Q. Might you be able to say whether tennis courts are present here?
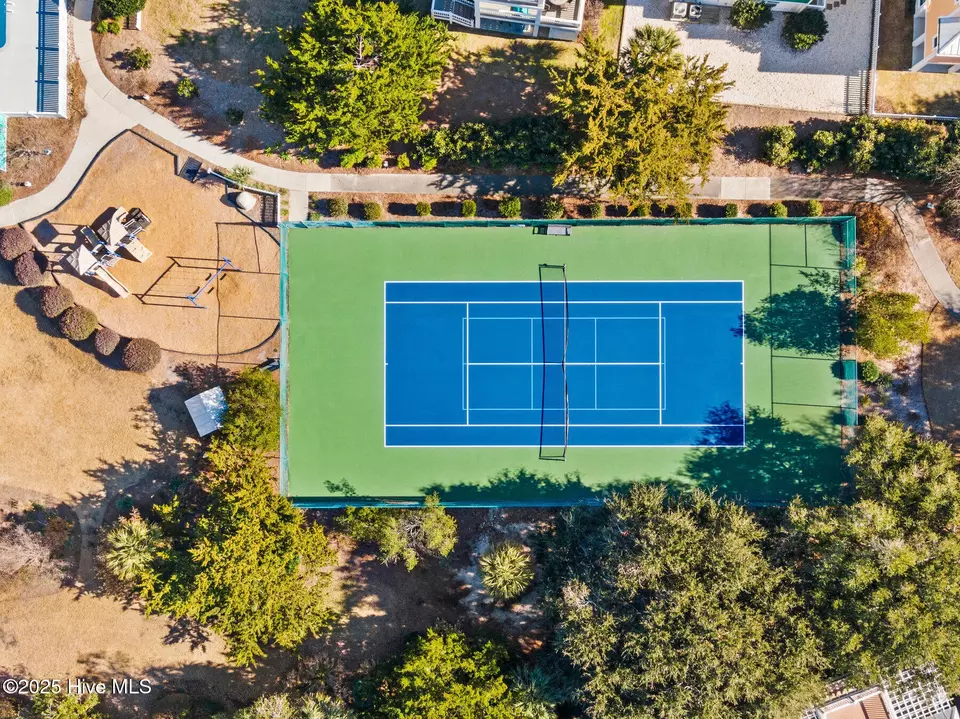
Yes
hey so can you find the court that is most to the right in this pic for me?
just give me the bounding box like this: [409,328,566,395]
[289,224,842,501]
